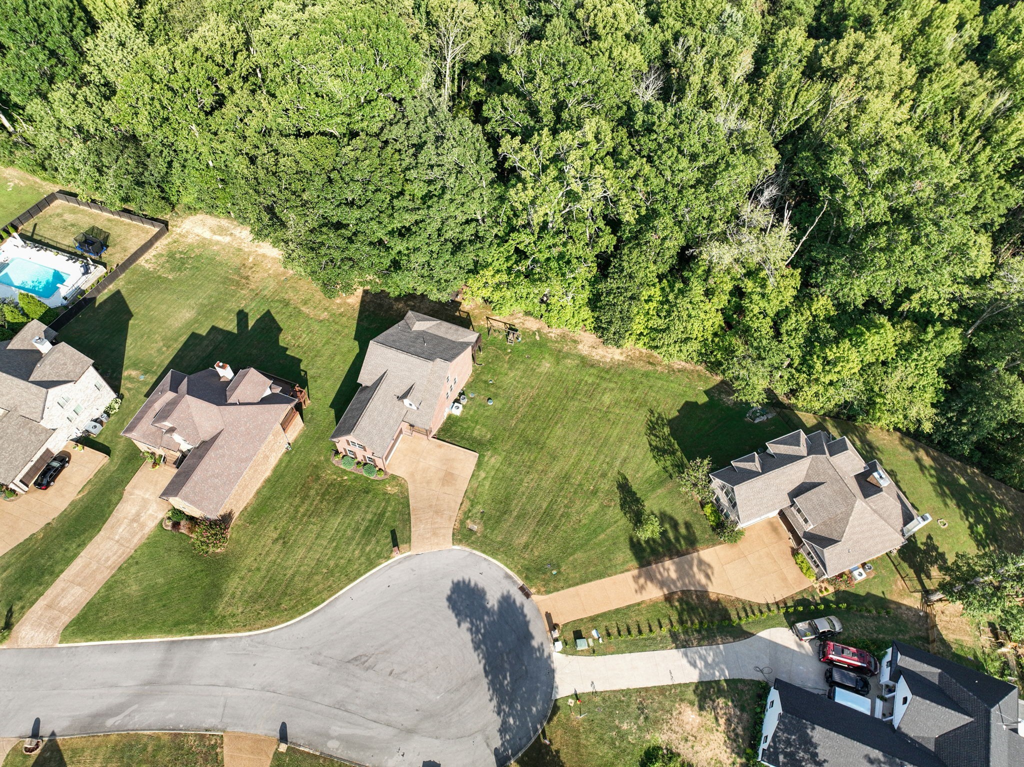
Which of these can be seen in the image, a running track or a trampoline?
trampoline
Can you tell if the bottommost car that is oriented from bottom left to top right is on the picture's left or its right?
left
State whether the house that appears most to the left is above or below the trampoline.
below it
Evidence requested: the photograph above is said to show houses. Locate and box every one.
[758,640,1024,767]
[120,360,309,527]
[329,310,482,471]
[707,429,934,587]
[0,318,116,493]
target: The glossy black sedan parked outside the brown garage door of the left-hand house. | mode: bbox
[31,455,72,492]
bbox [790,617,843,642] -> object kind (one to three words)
truck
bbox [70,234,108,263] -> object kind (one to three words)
trampoline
